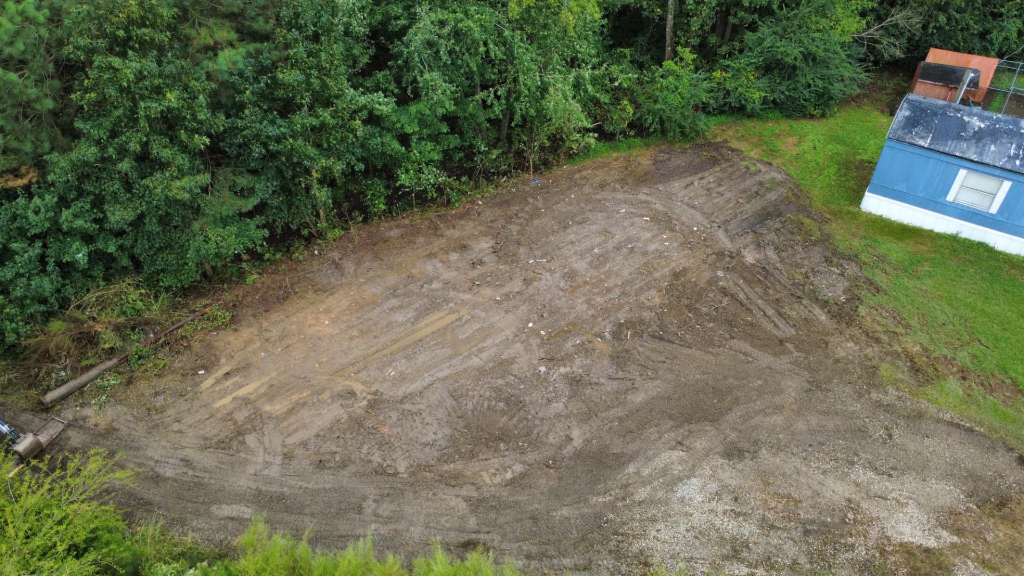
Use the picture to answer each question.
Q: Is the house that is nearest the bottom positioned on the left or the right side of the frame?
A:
right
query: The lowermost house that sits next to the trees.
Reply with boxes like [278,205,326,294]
[858,93,1024,258]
